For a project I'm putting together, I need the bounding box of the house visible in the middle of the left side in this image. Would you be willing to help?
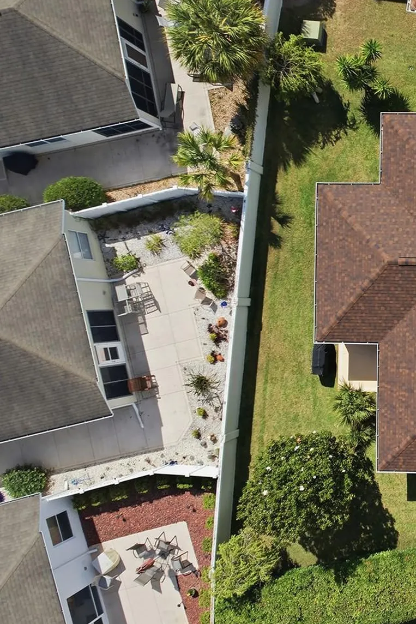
[0,202,142,442]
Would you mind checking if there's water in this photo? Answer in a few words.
No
